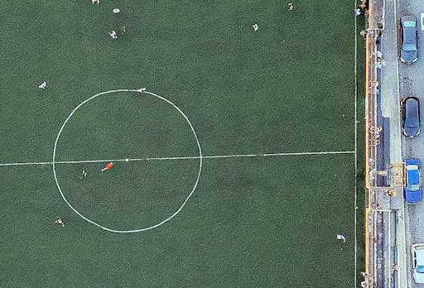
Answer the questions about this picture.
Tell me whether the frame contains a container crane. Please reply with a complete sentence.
No, there is no container crane in the image.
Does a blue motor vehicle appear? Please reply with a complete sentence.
Yes, the picture does show a blue motor vehicle.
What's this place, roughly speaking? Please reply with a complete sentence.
The picture captures a sports ground.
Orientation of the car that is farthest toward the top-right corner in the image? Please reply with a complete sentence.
The car that is farthest toward the top-right corner has been laid out vertically relative to the frame.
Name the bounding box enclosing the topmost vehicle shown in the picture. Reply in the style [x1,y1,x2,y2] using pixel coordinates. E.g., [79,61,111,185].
[398,16,420,64]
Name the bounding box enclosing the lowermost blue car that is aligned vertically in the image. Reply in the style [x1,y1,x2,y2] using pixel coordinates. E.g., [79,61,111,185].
[402,159,424,204]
